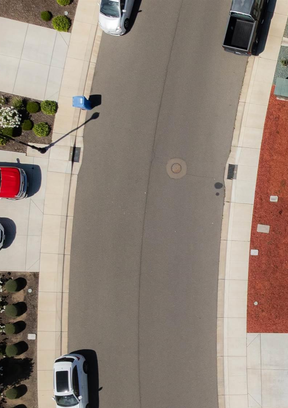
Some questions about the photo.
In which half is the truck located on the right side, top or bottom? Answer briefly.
top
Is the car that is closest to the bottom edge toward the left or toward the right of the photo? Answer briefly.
left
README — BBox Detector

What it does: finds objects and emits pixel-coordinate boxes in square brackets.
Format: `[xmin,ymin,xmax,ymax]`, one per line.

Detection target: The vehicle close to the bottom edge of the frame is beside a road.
[48,354,89,408]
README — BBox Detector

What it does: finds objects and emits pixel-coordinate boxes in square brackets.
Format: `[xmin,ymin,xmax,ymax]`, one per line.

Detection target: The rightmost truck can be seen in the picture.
[223,0,267,61]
